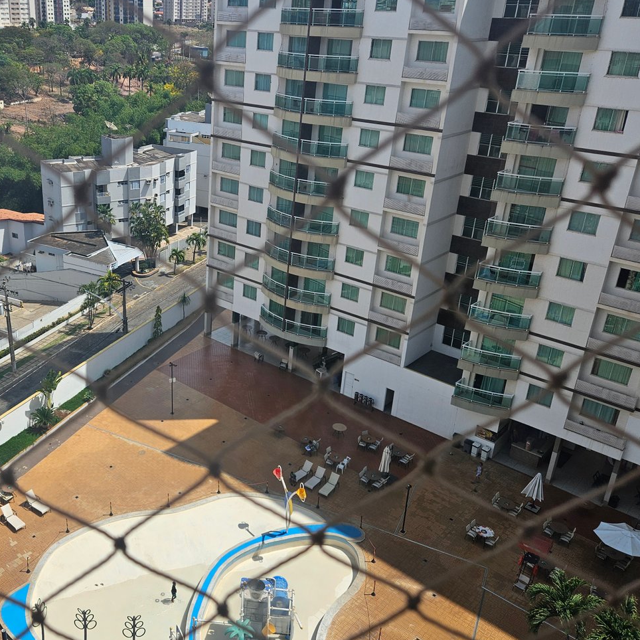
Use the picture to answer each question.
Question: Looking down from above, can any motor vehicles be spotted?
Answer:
No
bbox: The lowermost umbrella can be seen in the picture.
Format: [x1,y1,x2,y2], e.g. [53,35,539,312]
[590,522,640,575]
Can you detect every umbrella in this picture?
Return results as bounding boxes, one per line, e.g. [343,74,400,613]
[378,443,394,481]
[590,522,640,575]
[525,472,545,514]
